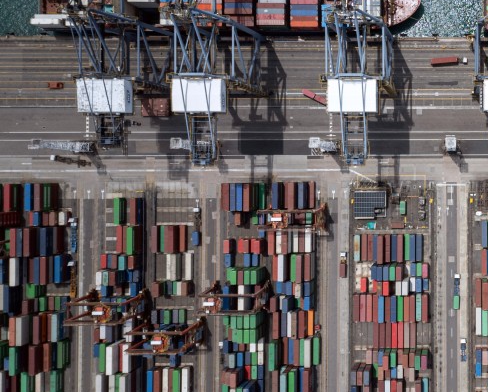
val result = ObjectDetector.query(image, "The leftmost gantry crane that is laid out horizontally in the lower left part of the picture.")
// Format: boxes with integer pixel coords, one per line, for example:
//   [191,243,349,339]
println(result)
[65,288,147,326]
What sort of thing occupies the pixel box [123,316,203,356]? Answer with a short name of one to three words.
container crane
